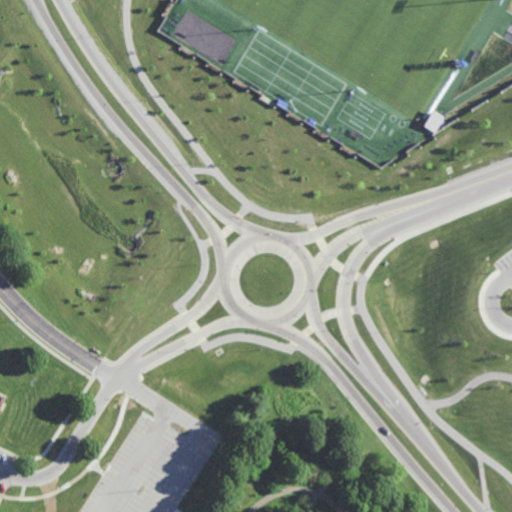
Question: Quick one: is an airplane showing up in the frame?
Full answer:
No, no airplane can be seen from above.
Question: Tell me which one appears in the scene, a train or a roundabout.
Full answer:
The one in the frame is a roundabout.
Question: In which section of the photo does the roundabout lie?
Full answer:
You can find the roundabout in the center area of the picture.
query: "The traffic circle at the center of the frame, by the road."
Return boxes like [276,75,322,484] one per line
[218,231,310,328]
